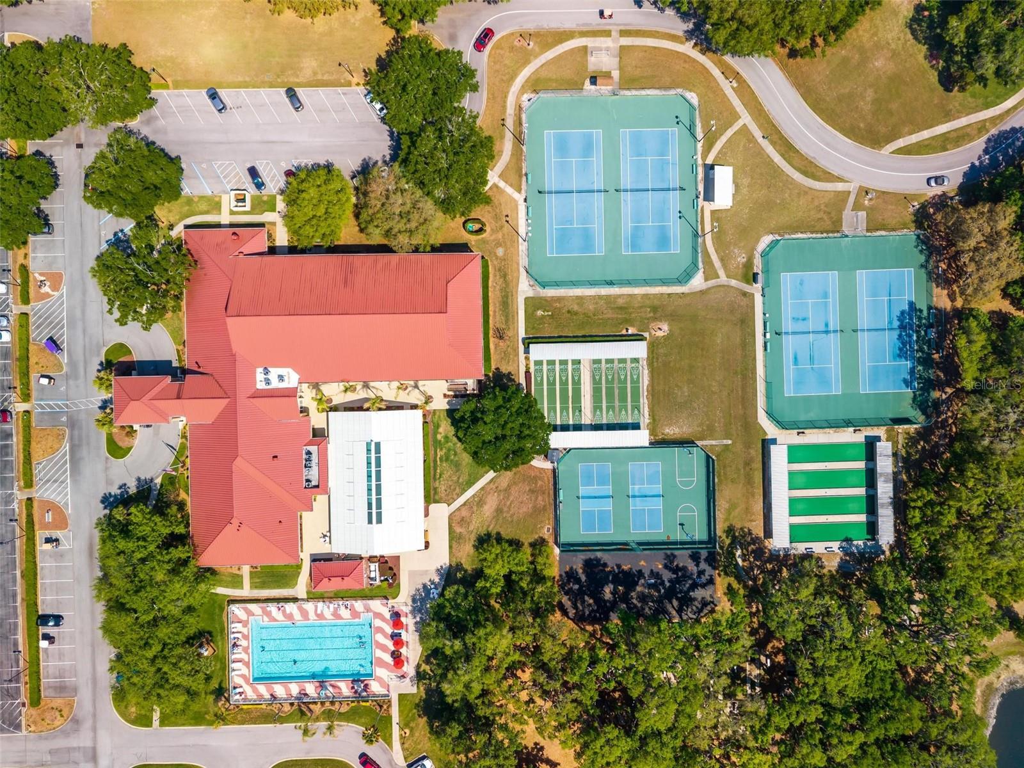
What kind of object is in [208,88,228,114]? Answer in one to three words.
car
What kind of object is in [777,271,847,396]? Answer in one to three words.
tennis court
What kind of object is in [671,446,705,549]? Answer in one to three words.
basketball court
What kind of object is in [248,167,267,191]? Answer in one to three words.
car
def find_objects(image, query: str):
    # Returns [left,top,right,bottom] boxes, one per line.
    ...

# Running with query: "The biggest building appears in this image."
[113,227,484,567]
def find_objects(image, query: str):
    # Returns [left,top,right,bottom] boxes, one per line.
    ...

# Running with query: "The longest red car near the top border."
[475,28,494,54]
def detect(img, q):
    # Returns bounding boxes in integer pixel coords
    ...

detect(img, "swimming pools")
[231,600,408,703]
